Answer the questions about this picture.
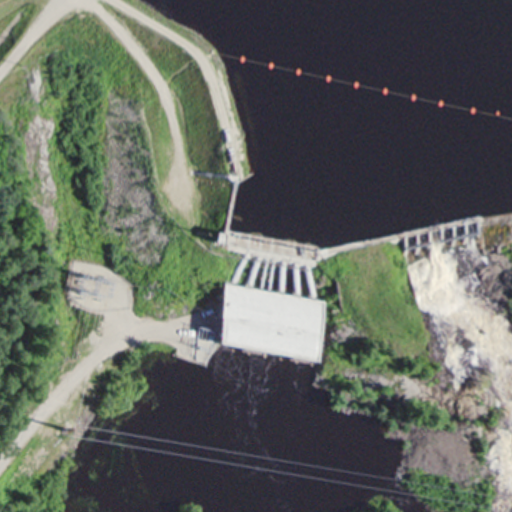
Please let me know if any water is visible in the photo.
Yes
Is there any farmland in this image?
No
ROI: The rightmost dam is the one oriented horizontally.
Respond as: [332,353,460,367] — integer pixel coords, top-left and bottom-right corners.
[401,218,482,252]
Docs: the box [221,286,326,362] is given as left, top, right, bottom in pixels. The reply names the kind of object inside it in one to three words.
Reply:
building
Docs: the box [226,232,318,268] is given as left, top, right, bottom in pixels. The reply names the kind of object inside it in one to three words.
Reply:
dam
